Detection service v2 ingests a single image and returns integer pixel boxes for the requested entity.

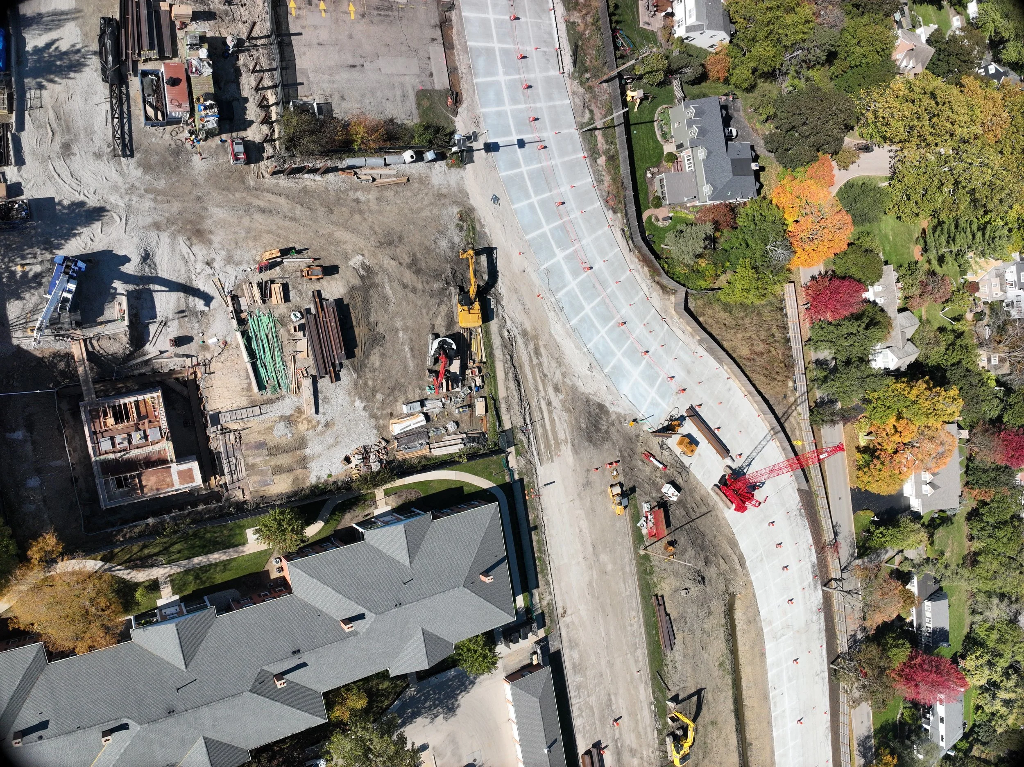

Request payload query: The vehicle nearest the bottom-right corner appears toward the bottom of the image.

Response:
[668,711,697,766]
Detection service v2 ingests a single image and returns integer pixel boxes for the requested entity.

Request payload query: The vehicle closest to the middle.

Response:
[429,335,459,395]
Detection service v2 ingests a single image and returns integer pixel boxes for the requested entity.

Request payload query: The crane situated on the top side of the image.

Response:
[16,252,108,350]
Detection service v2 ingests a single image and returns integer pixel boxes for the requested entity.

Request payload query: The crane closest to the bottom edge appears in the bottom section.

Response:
[716,443,846,520]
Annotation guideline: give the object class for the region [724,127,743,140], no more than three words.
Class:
vehicle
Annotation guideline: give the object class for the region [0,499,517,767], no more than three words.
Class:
building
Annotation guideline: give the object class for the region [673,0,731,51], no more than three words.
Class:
house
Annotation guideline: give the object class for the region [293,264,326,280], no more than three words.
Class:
work vehicle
